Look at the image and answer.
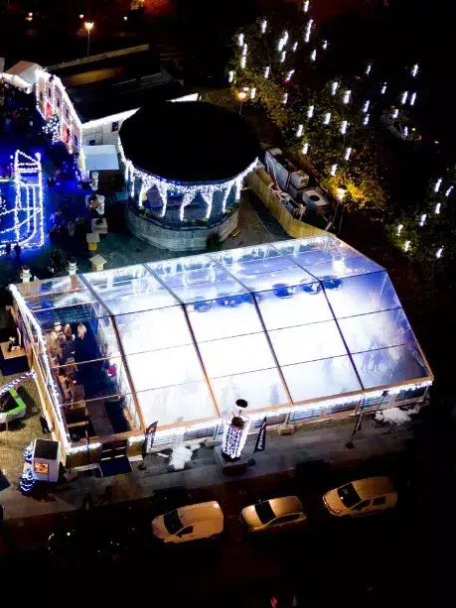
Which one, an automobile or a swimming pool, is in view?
automobile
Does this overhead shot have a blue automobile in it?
No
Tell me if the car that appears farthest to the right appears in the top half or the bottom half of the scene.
bottom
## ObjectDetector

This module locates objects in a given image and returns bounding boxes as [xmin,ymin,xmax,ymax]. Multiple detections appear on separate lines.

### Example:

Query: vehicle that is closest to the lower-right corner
[320,476,406,523]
